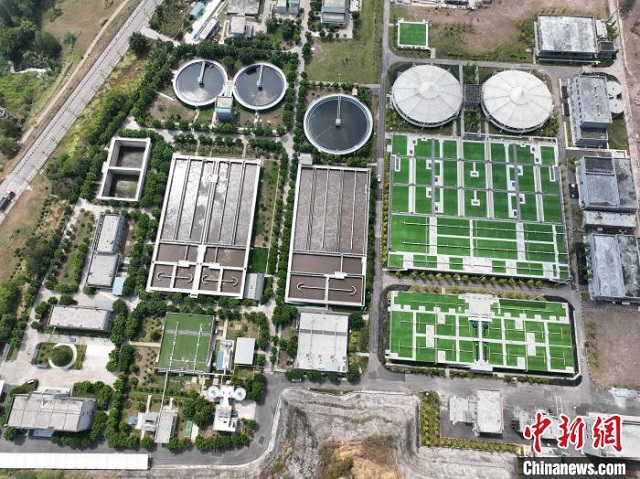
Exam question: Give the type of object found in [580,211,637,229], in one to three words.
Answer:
shed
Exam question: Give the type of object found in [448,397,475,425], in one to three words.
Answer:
building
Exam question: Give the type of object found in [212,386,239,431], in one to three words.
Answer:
house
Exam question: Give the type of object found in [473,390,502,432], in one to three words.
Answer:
house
